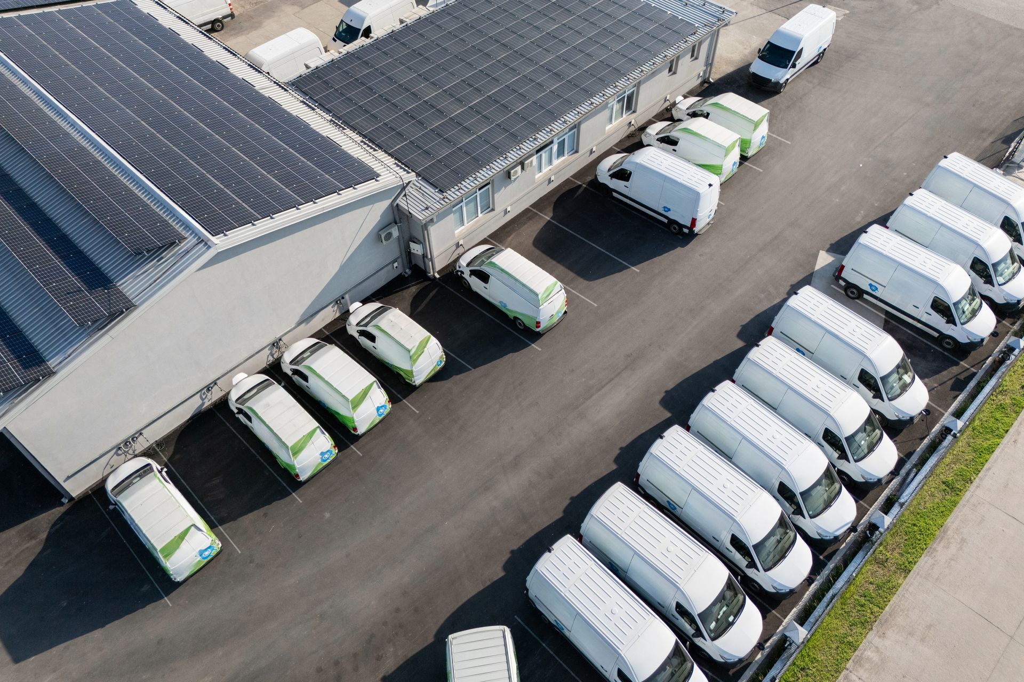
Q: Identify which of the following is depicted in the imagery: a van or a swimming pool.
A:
van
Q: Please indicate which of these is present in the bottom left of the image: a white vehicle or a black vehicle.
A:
white vehicle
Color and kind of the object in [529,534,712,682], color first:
white van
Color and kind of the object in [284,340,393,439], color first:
white van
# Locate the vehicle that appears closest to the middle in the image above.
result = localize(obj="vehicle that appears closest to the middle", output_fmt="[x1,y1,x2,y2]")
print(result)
[460,249,565,334]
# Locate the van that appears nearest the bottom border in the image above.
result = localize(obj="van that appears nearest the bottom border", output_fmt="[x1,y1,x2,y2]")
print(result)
[448,634,518,682]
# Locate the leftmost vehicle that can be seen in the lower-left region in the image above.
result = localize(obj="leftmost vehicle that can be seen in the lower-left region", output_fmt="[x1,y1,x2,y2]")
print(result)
[105,461,224,585]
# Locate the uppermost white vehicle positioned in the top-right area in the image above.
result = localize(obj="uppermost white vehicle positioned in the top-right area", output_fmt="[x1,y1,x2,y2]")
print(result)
[746,2,838,92]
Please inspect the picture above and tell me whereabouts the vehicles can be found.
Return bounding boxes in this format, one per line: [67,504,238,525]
[529,534,712,682]
[105,461,224,585]
[919,150,1024,266]
[284,340,393,439]
[460,249,565,334]
[325,0,414,52]
[243,32,326,85]
[670,92,771,159]
[145,0,228,38]
[686,377,860,544]
[342,301,452,396]
[643,116,742,183]
[598,144,723,237]
[582,481,769,669]
[448,634,518,682]
[731,330,901,486]
[767,283,936,428]
[634,423,817,600]
[746,2,838,92]
[224,377,340,485]
[833,222,1002,350]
